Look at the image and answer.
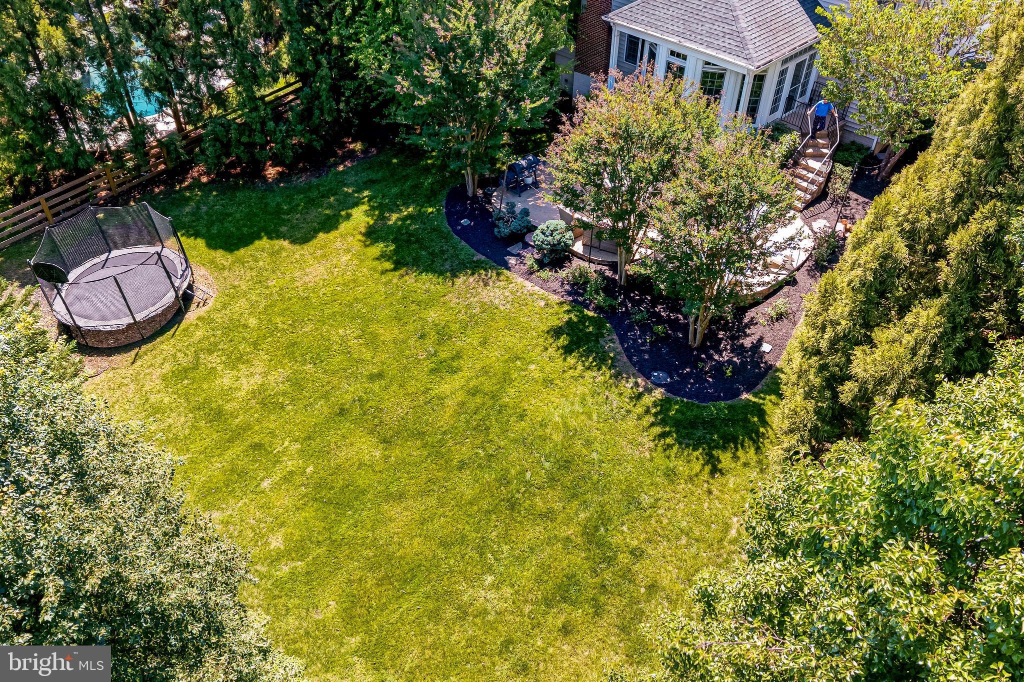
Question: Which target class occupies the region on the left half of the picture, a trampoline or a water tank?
trampoline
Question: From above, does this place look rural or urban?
rural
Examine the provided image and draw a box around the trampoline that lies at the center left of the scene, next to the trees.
[26,201,200,349]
